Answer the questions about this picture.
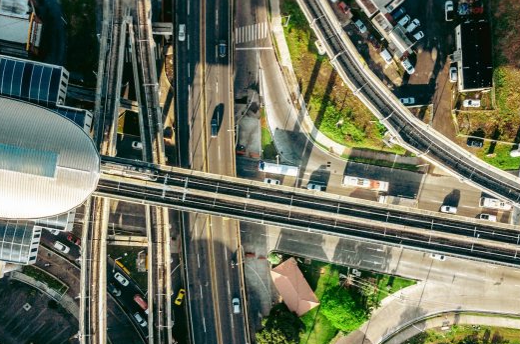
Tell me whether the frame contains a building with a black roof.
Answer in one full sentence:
Yes, the photo shows a building with a black roof.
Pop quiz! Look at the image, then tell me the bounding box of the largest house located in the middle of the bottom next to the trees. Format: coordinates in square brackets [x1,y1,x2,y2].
[272,258,320,316]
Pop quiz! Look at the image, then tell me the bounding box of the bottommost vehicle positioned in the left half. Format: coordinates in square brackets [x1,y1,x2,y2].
[133,313,146,328]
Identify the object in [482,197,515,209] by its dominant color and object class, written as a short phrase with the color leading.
white vehicle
